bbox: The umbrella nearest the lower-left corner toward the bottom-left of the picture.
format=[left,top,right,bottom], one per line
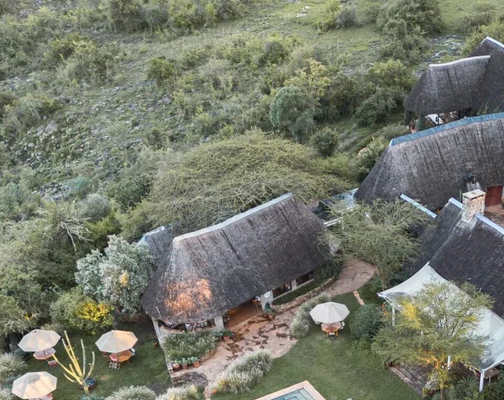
[14,377,59,400]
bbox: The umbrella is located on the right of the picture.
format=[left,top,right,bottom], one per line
[309,306,349,334]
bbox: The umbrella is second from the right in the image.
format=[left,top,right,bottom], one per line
[97,334,139,363]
